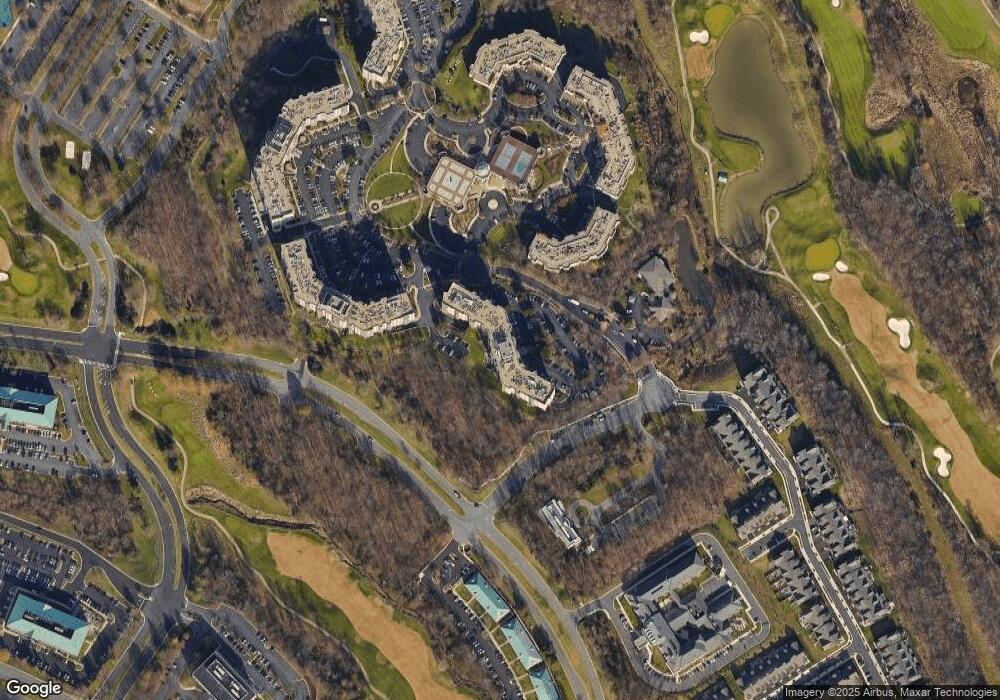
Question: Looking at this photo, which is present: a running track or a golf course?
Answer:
golf course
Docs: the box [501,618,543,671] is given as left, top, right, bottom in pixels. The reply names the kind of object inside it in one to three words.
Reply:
building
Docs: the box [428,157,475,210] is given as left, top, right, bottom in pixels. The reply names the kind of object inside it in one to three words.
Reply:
building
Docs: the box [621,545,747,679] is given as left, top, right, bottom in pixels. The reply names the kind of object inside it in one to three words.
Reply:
house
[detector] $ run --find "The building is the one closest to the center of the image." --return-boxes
[440,282,553,413]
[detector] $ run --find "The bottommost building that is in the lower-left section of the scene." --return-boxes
[193,652,258,700]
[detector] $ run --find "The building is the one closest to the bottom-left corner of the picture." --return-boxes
[7,594,88,658]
